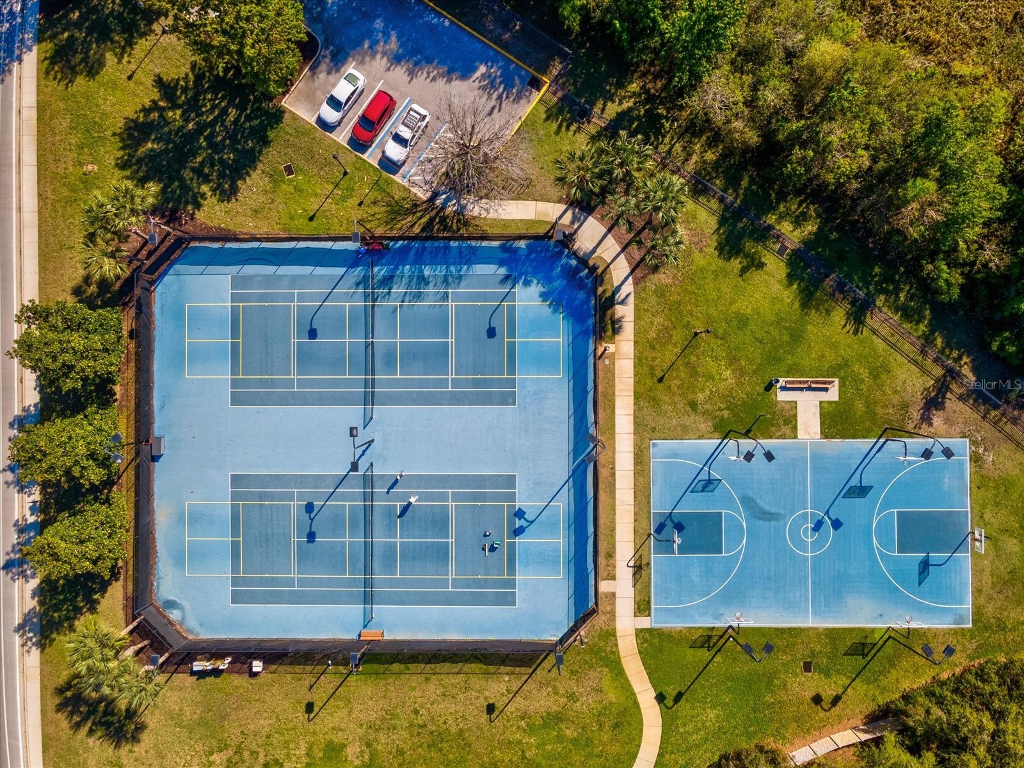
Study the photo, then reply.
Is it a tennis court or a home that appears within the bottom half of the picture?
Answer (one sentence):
What appears within the bottom half of the picture is a tennis court.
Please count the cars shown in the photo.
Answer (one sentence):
The count of cars comes to 3.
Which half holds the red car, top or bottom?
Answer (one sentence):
The red car is in the top half of the image.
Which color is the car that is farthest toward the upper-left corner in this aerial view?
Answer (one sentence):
In this view, the car that is farthest toward the upper-left corner is white.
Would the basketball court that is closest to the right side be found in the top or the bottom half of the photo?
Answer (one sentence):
It is in the bottom half that the basketball court that is closest to the right side appears.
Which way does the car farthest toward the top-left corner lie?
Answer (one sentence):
Seen from above, the car farthest toward the top-left corner lies diagonally.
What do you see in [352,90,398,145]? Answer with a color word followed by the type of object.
red car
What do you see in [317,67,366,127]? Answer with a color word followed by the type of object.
white car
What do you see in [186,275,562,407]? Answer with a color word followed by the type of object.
blue tennis court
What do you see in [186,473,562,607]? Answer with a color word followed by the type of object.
blue tennis court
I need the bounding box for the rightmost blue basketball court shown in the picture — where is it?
[651,439,973,628]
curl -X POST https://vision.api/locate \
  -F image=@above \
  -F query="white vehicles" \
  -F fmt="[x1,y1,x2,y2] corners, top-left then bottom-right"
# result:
[382,103,433,165]
[317,67,366,127]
